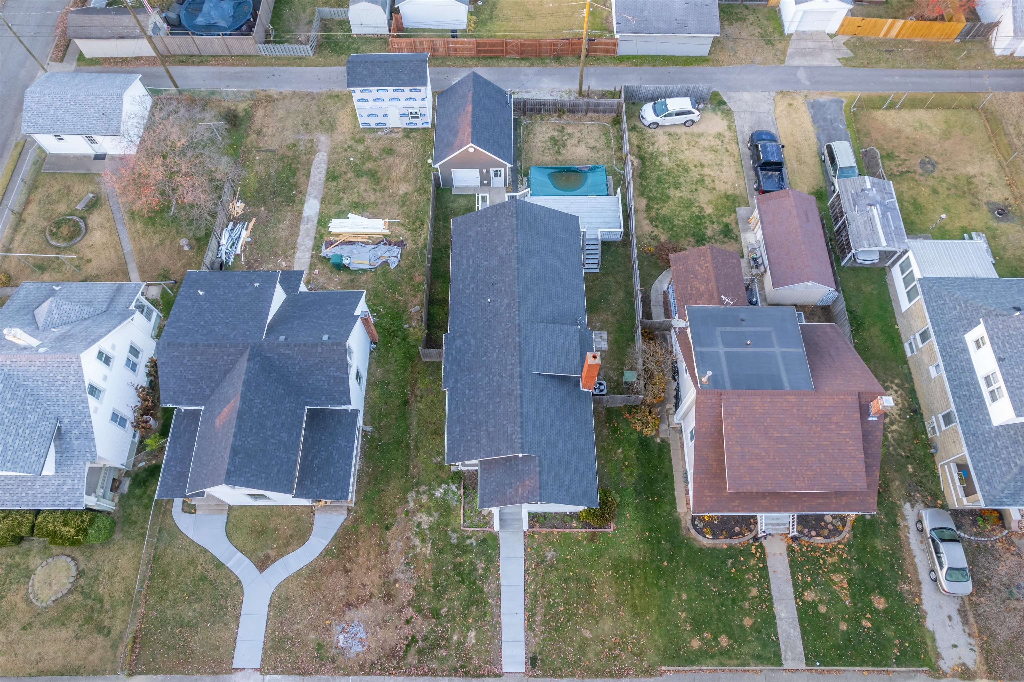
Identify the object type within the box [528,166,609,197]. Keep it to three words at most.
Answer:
swimming pool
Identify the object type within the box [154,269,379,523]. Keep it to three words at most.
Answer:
house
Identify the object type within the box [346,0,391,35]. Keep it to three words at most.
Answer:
shed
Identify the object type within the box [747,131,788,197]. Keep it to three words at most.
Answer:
truck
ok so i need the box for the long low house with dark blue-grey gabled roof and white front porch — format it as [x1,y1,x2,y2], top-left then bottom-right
[441,198,602,532]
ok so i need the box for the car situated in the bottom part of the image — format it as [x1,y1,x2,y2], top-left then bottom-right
[919,510,977,601]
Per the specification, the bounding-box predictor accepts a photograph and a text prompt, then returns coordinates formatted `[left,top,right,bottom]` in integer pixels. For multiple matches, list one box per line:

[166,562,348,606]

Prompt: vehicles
[747,131,788,197]
[854,250,884,260]
[640,95,705,129]
[822,137,862,196]
[919,510,977,601]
